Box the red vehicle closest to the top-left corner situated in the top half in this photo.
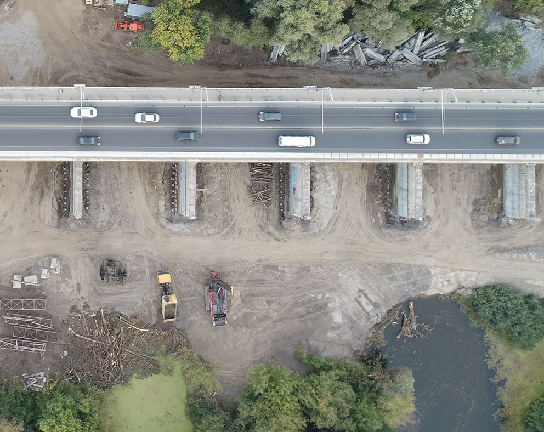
[112,20,144,32]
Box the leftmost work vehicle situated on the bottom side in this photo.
[102,261,128,283]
